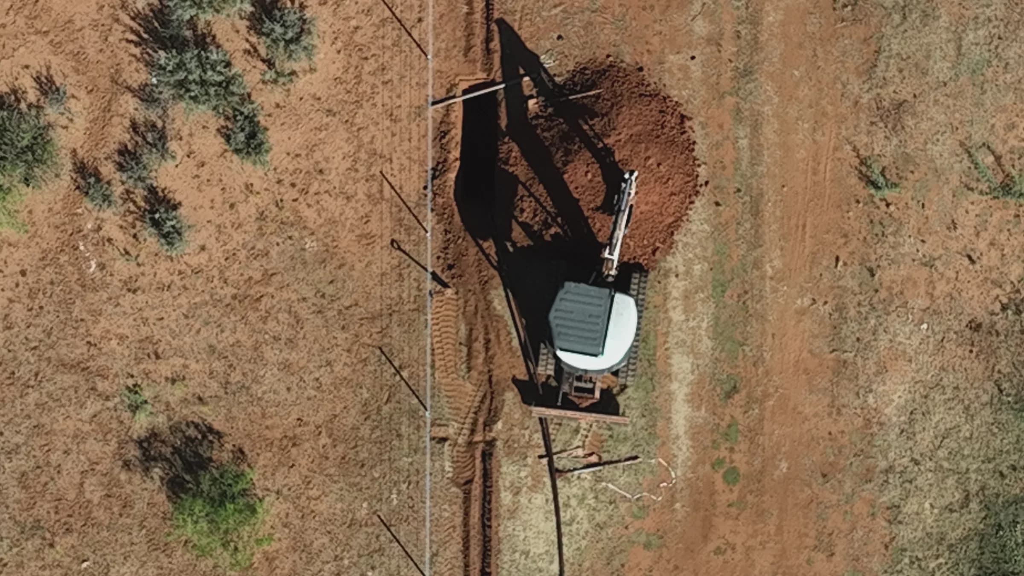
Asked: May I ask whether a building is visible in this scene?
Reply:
No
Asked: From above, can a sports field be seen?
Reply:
No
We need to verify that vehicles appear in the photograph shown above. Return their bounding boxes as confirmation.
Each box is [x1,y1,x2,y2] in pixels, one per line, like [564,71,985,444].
[530,167,650,423]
